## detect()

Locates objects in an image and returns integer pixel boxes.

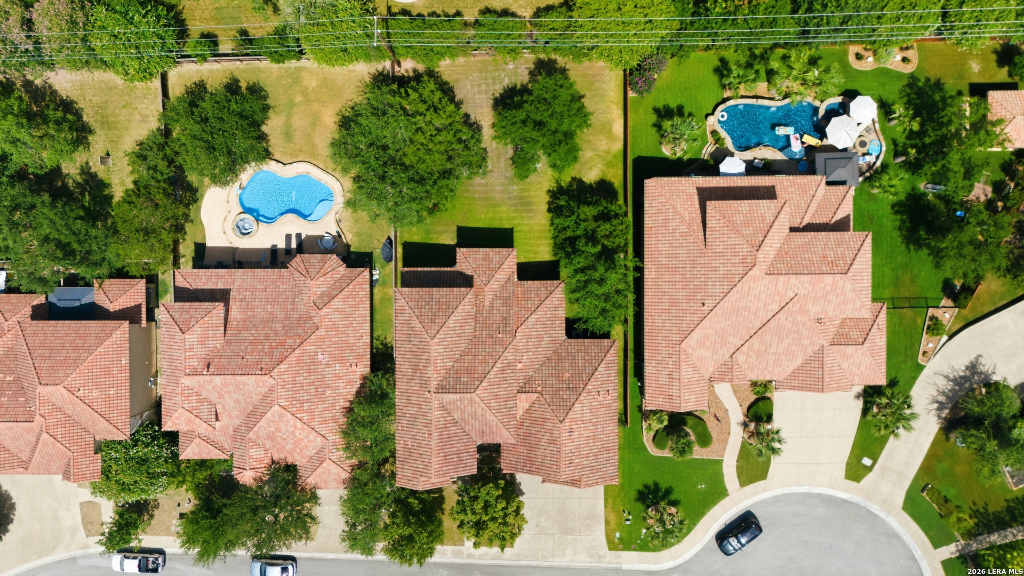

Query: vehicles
[250,558,296,576]
[717,518,763,556]
[111,552,166,576]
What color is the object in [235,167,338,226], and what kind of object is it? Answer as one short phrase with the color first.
blue swimming pool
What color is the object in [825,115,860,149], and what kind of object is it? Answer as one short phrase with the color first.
white umbrella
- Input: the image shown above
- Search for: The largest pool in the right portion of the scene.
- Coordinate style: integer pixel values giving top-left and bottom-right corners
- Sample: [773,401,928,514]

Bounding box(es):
[704,96,828,163]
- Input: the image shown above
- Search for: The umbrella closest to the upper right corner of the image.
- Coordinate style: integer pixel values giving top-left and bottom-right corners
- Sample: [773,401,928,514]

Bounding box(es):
[849,96,877,123]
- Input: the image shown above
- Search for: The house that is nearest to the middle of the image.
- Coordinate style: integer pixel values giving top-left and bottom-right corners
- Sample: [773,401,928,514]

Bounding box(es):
[394,247,619,490]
